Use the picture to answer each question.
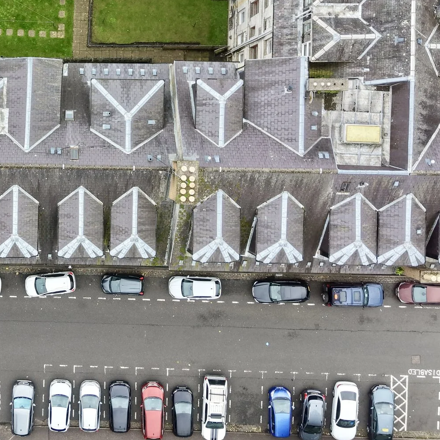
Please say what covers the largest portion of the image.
buildings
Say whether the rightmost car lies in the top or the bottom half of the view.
bottom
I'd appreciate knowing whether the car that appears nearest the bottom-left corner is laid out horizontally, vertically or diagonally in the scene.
vertically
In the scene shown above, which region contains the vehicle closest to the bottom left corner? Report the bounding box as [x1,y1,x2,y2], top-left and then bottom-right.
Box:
[9,377,37,438]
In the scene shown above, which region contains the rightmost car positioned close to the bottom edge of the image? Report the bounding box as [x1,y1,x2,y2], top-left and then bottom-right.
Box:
[366,384,396,440]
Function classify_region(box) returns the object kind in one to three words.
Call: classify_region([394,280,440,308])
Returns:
car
